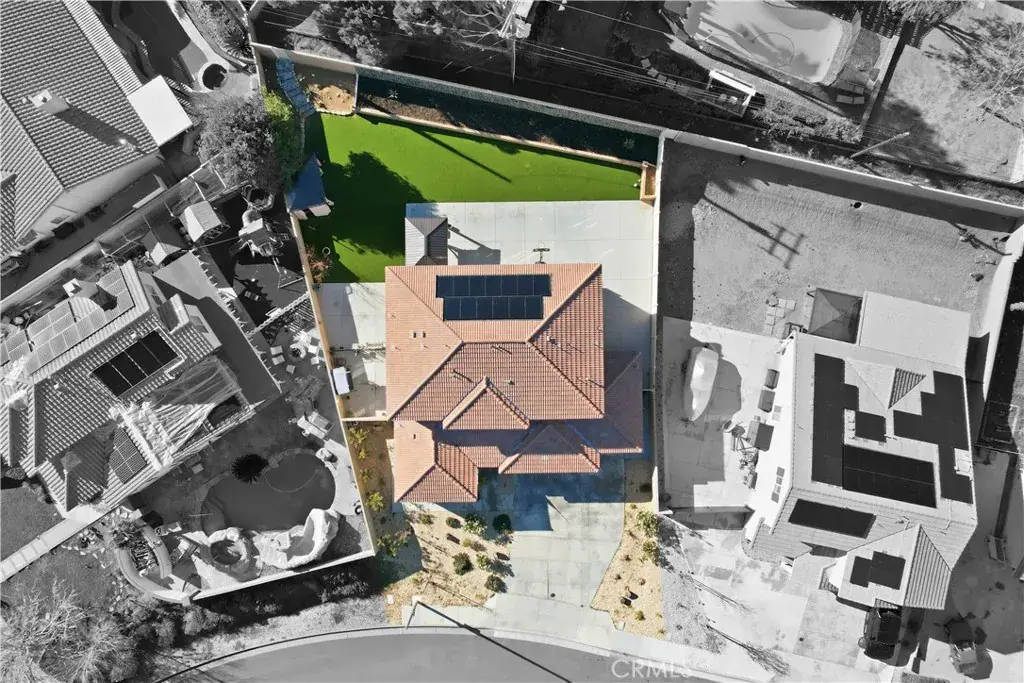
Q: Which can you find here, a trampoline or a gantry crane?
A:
trampoline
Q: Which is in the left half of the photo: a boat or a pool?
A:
pool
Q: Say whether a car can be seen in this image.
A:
Yes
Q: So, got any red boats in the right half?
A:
No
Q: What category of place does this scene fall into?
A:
residential area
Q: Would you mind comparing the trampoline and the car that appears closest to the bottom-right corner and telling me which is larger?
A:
the car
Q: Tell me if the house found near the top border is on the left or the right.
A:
left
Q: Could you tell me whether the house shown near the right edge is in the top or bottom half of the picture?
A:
bottom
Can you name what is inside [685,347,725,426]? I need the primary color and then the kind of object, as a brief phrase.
white boat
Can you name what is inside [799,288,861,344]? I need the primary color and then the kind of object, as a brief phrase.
gray gazebo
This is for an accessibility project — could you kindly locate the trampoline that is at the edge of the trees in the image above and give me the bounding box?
[239,178,277,212]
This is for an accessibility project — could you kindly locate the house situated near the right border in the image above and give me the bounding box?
[743,332,978,610]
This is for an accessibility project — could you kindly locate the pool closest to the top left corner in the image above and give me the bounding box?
[117,0,194,82]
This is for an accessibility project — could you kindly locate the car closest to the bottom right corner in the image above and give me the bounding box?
[938,610,985,674]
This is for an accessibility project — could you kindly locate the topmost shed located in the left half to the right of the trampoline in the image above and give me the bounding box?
[288,157,343,219]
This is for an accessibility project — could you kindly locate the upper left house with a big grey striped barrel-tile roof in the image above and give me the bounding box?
[0,0,172,244]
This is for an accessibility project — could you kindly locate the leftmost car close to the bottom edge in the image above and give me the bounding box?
[862,605,907,660]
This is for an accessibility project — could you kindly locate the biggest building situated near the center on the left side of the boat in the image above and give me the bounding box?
[385,262,643,505]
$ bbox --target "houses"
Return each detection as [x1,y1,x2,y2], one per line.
[0,260,265,518]
[743,332,978,610]
[385,262,643,505]
[0,0,172,244]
